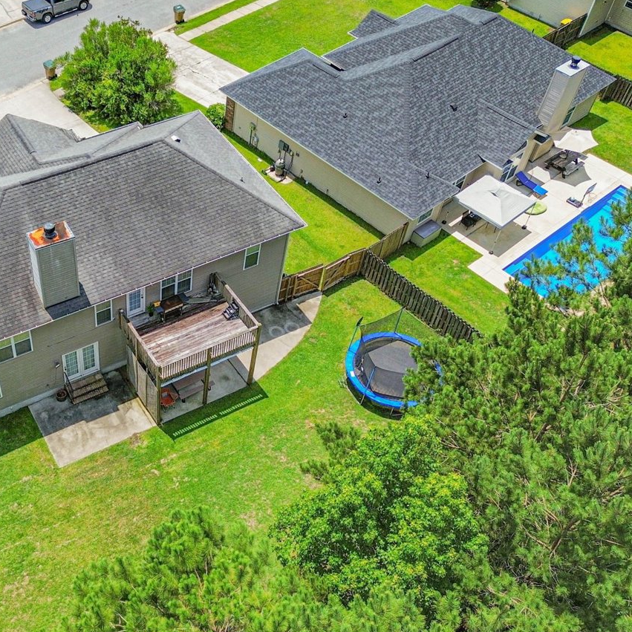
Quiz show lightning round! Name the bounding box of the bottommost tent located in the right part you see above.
[440,175,539,261]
